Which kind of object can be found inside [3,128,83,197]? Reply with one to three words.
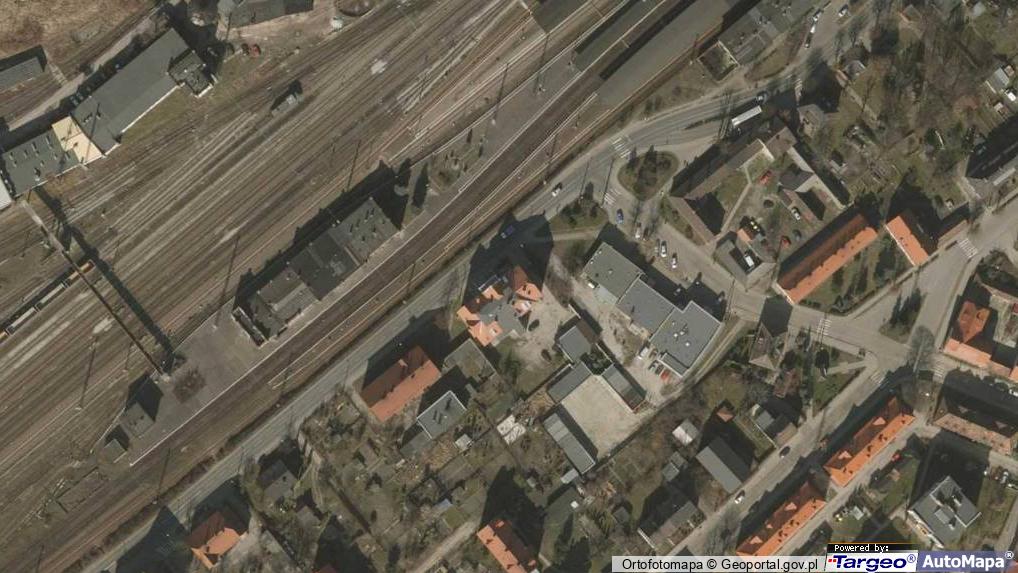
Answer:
building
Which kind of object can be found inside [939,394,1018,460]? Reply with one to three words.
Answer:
house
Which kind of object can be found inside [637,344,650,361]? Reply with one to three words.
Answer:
vehicle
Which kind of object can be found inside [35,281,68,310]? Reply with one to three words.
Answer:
rail car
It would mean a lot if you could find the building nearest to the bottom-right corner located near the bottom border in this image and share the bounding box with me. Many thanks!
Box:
[903,476,981,548]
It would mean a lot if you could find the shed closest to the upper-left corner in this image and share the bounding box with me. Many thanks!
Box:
[0,57,45,96]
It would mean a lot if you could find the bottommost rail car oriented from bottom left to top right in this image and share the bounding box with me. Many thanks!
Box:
[6,305,39,334]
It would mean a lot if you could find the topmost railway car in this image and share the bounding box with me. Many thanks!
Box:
[65,258,94,286]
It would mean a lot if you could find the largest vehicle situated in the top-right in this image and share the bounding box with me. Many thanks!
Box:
[730,104,764,125]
